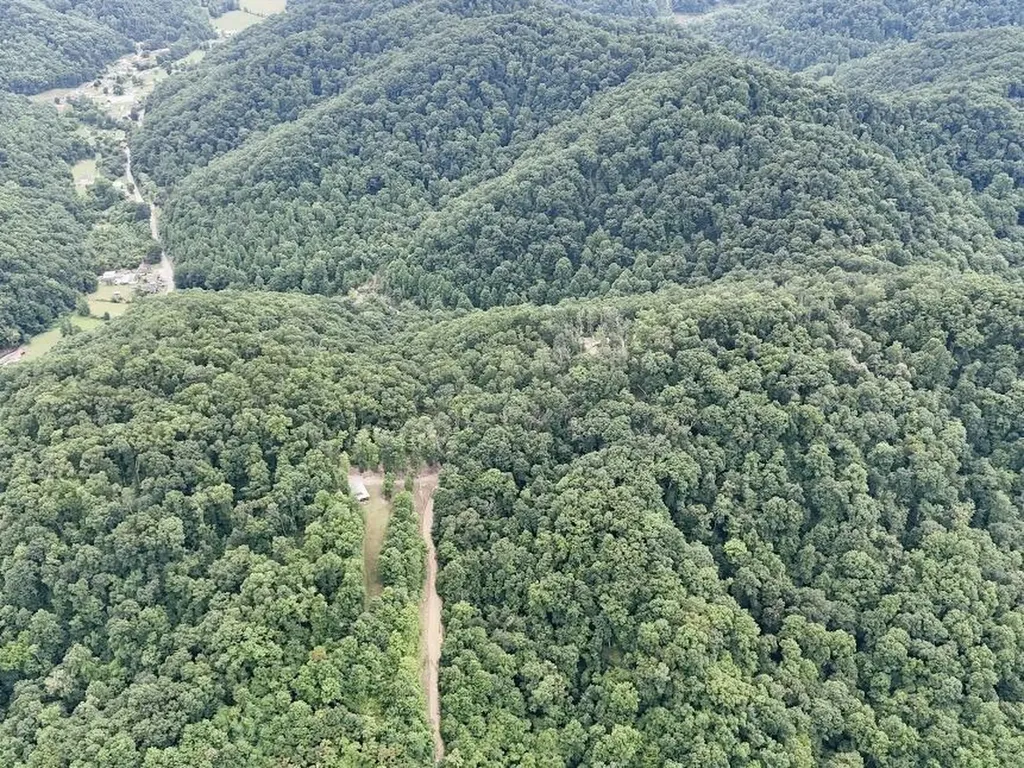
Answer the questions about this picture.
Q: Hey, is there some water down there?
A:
No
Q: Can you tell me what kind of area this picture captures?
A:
forest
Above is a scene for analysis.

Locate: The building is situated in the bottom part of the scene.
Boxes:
[351,476,372,505]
